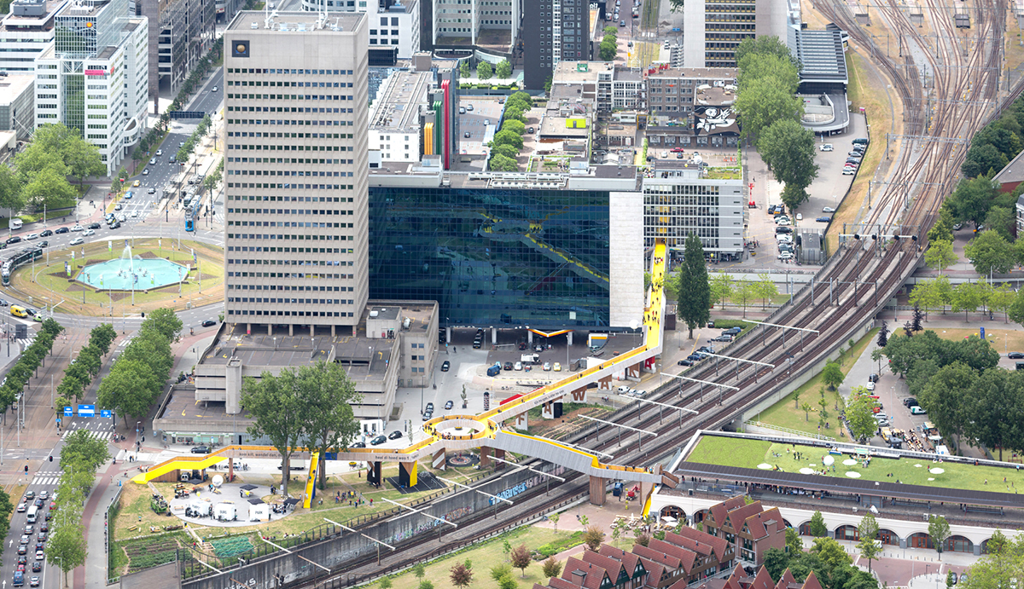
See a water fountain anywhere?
Yes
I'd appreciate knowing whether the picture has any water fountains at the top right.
No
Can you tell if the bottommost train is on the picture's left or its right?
left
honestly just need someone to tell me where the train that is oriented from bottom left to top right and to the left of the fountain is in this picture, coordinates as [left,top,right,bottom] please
[0,234,44,290]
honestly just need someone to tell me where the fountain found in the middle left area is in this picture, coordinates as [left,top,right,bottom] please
[72,235,188,294]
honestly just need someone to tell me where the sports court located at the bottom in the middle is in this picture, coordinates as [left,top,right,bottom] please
[388,472,447,494]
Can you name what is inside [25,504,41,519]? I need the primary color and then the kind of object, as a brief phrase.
white vehicle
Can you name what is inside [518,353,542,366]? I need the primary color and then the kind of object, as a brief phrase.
white vehicle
